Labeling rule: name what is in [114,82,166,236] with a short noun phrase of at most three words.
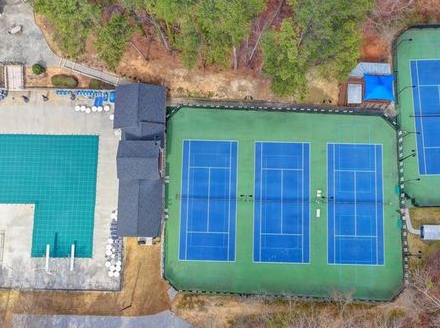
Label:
building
